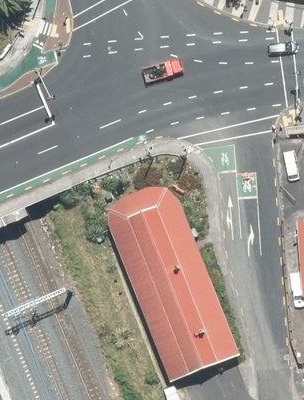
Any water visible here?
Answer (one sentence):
No, the picture contains no water.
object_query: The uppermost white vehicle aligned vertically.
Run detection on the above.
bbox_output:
[284,150,301,181]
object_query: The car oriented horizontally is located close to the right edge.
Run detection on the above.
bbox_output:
[268,40,299,56]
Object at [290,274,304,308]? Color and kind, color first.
white vehicle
